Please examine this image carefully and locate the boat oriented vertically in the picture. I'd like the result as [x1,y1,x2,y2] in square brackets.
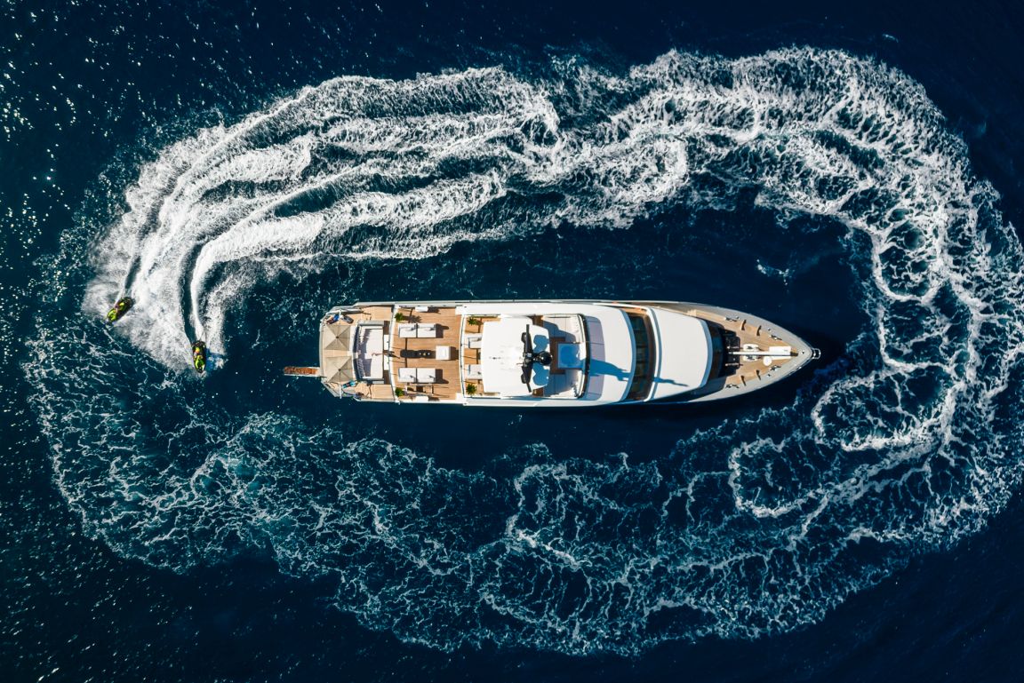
[190,341,204,374]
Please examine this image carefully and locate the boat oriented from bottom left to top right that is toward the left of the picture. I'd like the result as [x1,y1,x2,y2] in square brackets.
[103,295,133,320]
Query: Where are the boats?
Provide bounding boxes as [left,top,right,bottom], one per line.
[103,295,133,320]
[284,300,821,407]
[190,341,204,374]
